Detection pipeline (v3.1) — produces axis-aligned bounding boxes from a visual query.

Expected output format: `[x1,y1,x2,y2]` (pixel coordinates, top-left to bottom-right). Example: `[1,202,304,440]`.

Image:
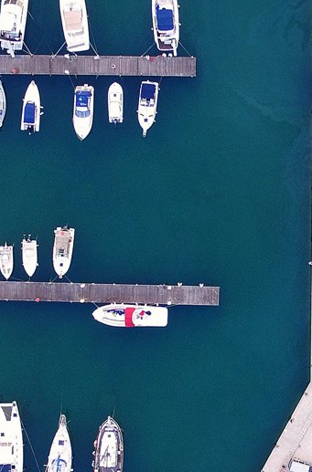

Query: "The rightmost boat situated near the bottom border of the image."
[92,416,123,472]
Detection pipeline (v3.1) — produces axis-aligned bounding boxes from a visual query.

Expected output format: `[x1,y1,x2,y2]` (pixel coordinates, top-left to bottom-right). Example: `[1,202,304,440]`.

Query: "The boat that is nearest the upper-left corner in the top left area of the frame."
[0,0,28,57]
